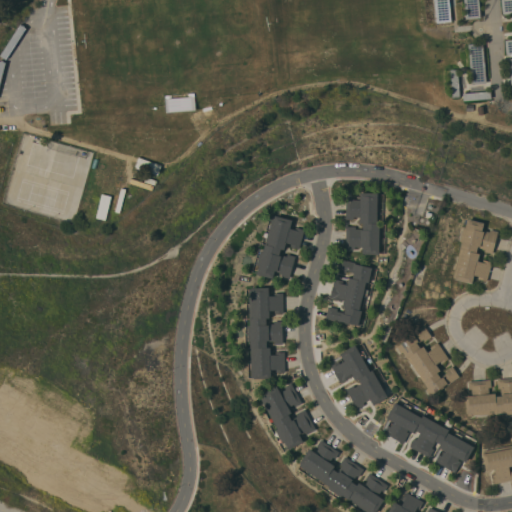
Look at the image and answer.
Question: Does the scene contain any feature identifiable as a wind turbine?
No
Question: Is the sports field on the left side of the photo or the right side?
left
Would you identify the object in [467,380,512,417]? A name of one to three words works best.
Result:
house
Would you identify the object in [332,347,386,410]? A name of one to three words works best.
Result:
building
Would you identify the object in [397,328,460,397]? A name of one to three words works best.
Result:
house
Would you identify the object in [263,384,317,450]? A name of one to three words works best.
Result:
building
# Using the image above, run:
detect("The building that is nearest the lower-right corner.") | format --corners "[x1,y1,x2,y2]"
[484,450,512,486]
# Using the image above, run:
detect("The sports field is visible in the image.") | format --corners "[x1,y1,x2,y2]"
[86,0,268,75]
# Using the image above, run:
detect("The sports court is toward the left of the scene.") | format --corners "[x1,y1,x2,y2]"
[6,134,94,219]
